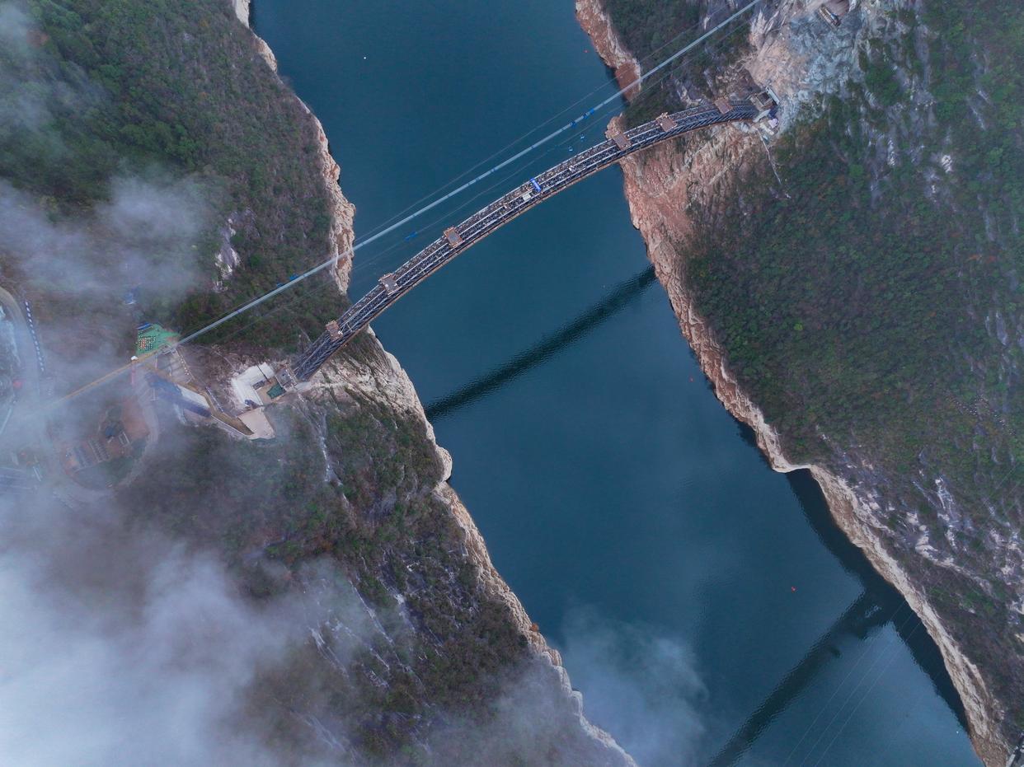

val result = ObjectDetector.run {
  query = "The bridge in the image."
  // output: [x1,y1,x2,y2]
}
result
[291,92,764,395]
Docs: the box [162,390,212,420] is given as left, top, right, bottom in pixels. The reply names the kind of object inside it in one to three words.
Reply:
shed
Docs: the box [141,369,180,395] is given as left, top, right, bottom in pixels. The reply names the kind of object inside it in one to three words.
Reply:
shed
